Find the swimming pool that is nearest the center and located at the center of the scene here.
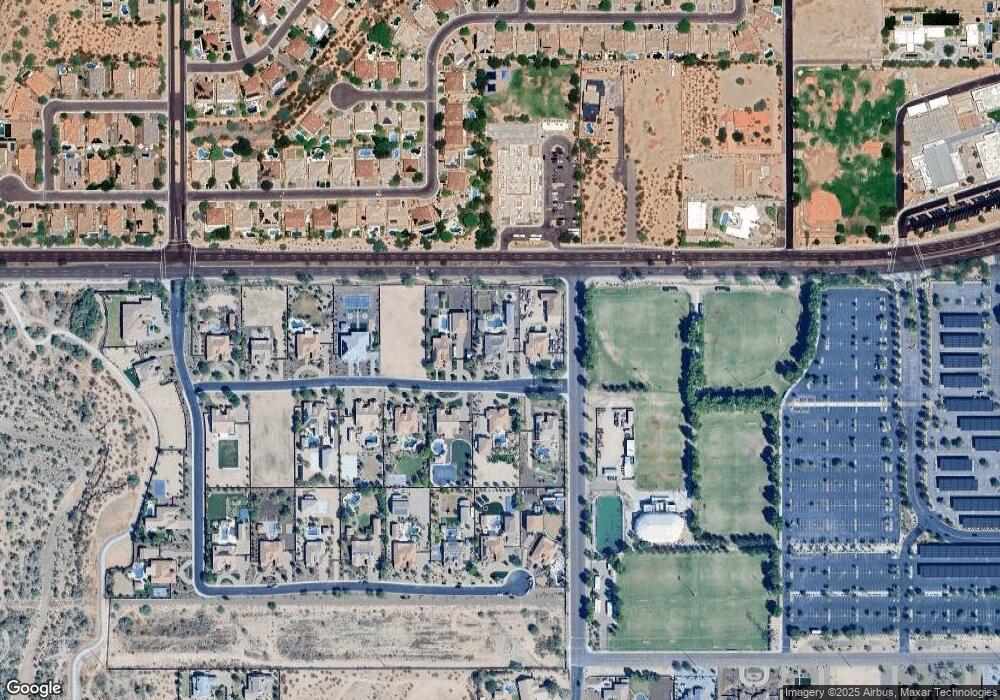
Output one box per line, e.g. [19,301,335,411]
[483,314,504,329]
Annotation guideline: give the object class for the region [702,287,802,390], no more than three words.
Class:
sports field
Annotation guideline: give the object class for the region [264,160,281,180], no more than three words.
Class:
house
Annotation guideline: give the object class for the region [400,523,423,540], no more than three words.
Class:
swimming pool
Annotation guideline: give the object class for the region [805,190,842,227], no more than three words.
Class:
baseball field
